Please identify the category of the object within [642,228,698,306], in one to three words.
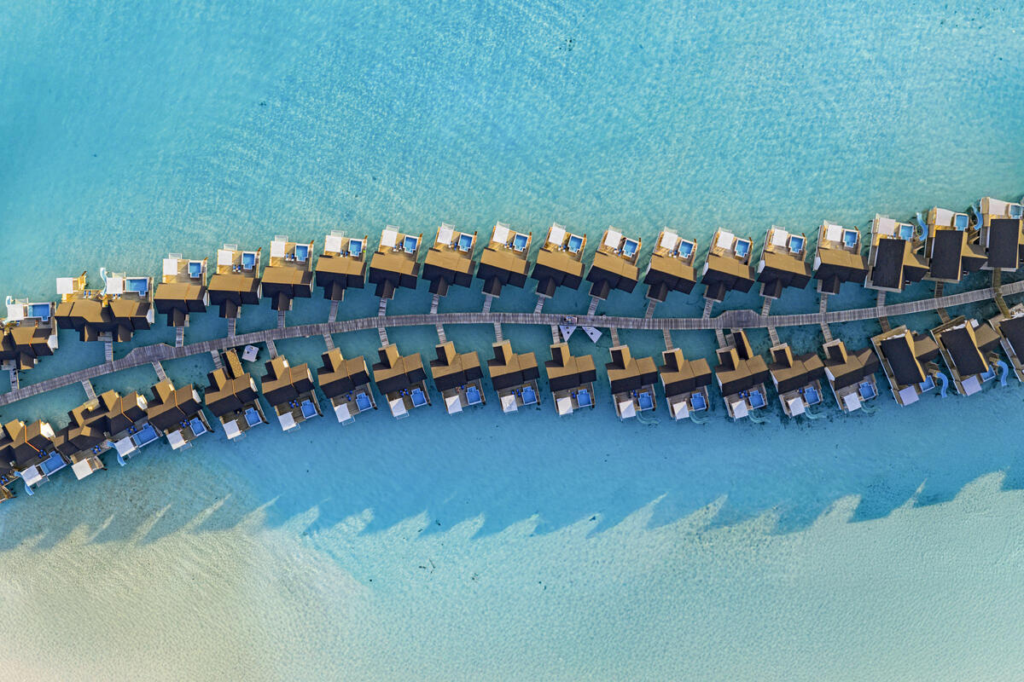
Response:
house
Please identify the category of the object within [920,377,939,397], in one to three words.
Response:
swimming pool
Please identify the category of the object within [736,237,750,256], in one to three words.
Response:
swimming pool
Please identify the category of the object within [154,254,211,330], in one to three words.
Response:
house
